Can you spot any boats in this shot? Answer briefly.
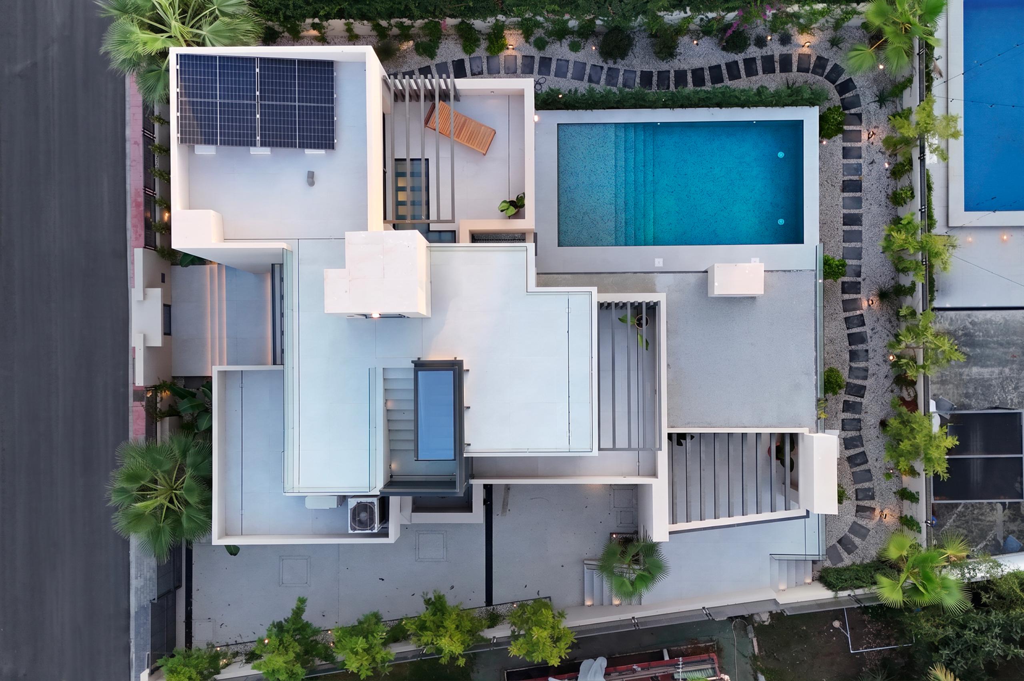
No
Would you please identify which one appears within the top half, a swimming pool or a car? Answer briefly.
swimming pool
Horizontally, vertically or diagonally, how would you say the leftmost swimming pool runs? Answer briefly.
horizontally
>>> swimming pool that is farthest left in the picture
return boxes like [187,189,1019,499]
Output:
[557,121,804,248]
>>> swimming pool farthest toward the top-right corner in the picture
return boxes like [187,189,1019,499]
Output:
[945,0,1024,228]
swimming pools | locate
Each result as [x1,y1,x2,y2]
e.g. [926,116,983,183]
[945,0,1024,228]
[557,121,804,248]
